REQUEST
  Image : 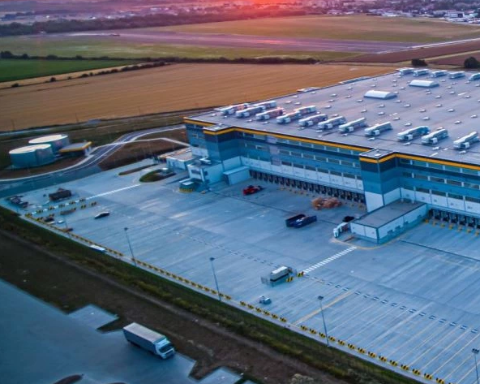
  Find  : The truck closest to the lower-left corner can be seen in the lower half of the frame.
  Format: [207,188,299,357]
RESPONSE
[125,323,175,358]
